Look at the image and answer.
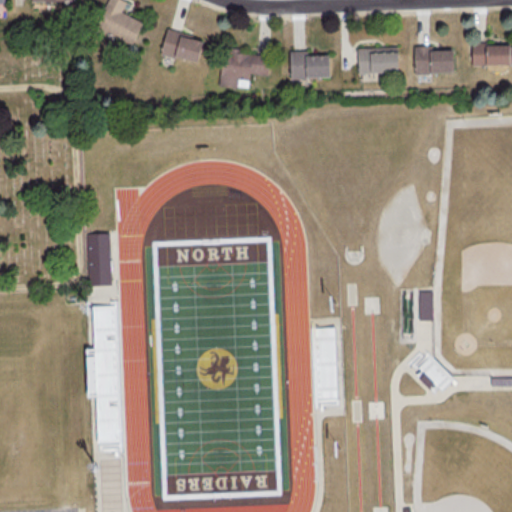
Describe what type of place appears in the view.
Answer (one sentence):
The picture captures a sports ground.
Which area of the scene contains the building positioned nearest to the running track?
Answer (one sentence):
The building positioned nearest to the running track appears toward the left of the photo.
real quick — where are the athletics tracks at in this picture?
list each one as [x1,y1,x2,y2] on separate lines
[117,159,318,512]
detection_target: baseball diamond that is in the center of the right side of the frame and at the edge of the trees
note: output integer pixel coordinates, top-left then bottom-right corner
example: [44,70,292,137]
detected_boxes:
[434,116,512,376]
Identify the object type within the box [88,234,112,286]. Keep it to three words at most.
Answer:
building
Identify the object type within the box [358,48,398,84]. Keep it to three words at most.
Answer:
house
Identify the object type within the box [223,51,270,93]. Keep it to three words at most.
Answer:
house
